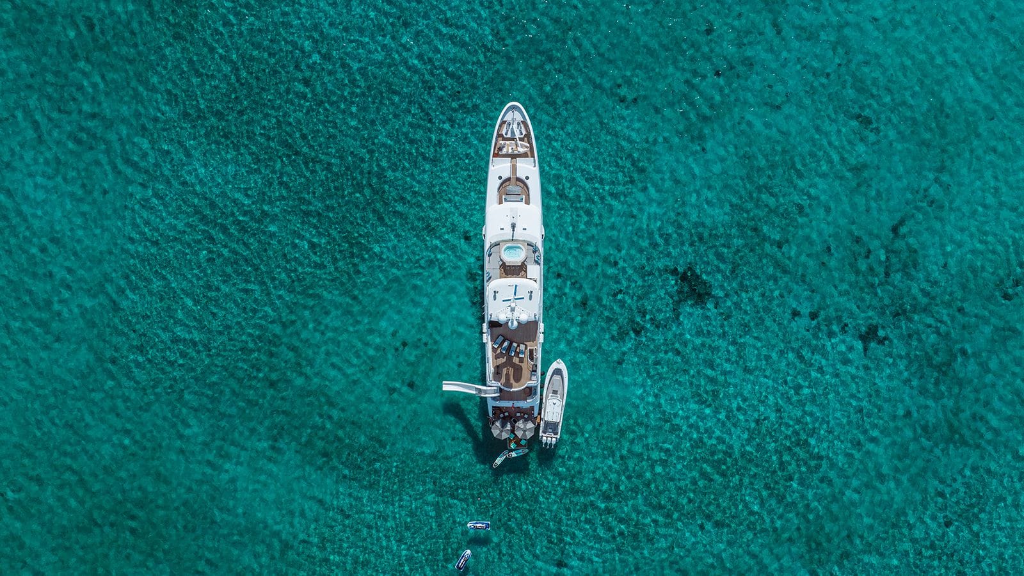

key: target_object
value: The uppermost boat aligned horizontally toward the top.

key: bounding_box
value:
[496,140,529,153]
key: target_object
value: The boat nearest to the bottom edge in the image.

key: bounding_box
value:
[454,552,469,572]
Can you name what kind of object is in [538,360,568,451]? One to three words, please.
boat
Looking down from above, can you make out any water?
Yes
